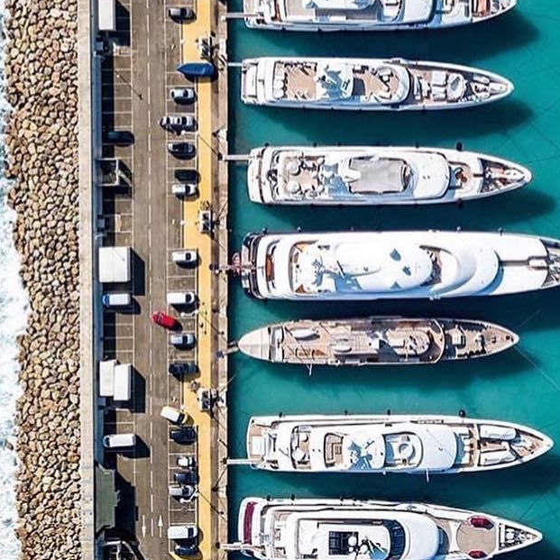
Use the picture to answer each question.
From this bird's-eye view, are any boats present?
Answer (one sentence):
Yes, a boat appears in the view.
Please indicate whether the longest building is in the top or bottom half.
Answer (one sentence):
You can find the longest building in the bottom half.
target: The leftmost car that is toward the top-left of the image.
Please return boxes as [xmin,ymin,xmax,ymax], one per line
[105,130,132,144]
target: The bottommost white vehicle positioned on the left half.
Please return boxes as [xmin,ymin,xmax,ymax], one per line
[166,525,196,542]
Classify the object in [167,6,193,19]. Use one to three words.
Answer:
vehicle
